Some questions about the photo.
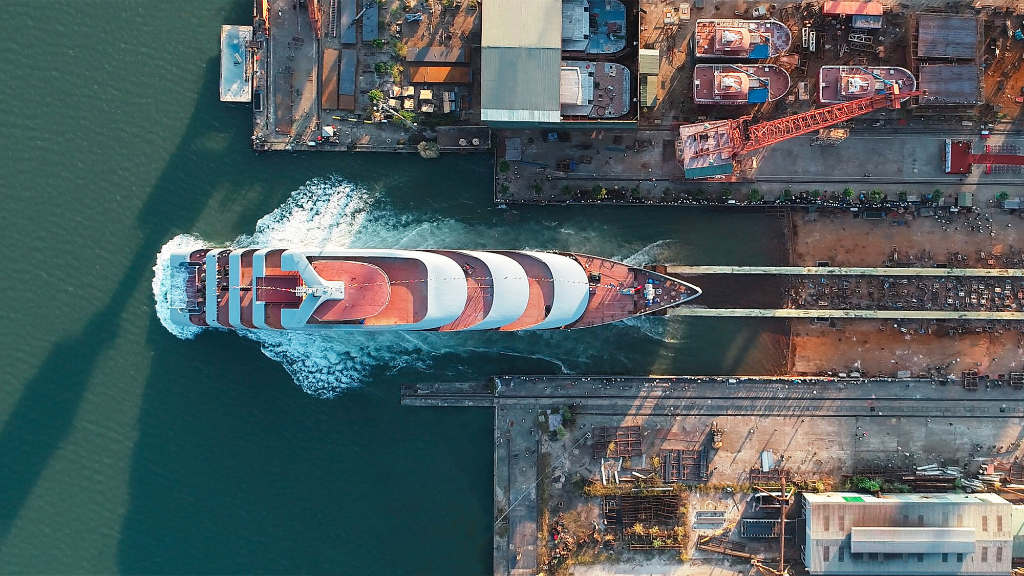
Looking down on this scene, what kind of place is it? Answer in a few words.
port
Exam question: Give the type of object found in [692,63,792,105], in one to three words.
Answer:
boat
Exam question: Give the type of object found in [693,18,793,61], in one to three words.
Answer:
boat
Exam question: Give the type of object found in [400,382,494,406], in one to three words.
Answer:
pier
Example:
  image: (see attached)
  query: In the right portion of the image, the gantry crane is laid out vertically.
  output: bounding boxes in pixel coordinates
[751,475,795,576]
